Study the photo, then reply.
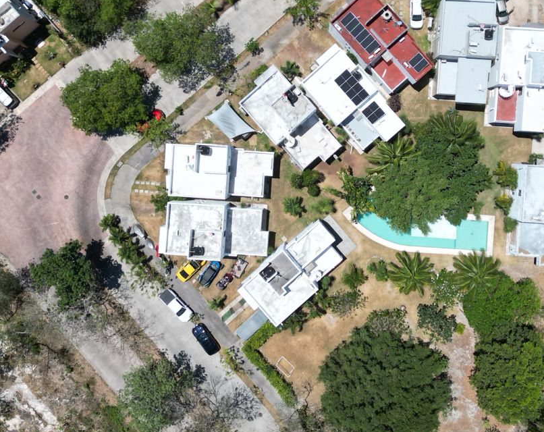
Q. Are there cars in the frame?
Yes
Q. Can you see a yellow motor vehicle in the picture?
Yes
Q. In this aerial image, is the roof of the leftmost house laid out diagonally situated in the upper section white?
Yes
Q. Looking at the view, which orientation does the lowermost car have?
diagonally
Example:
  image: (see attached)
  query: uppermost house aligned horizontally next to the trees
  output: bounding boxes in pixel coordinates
[164,143,275,199]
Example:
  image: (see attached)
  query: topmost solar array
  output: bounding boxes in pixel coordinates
[341,13,380,54]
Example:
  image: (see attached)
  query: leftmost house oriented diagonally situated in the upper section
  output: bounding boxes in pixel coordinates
[239,65,342,171]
